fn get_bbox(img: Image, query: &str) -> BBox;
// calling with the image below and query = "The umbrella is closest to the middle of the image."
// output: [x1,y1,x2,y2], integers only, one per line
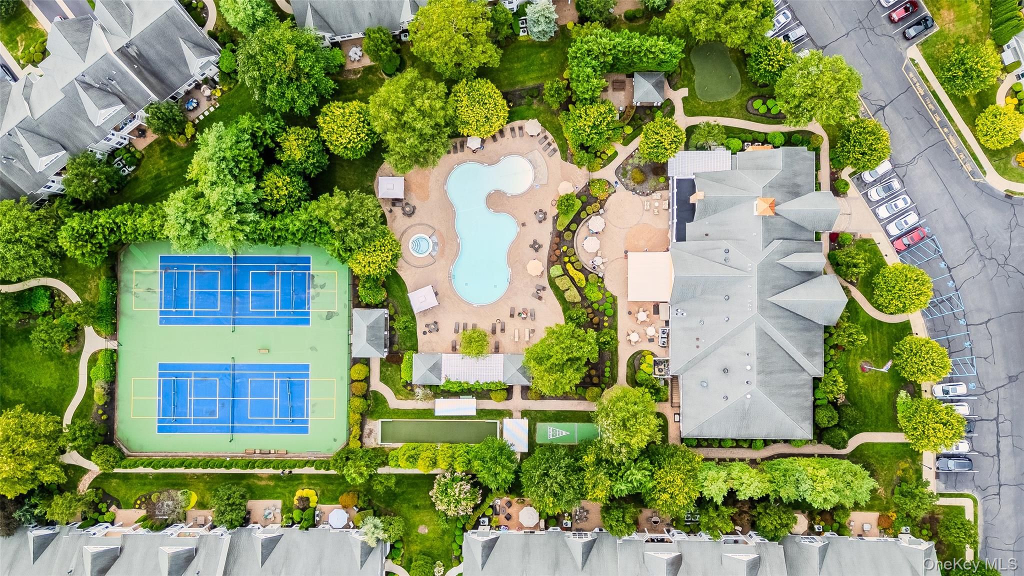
[527,260,543,276]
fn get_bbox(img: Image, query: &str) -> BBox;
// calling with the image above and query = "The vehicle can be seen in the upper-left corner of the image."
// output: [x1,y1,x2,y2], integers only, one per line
[47,3,67,21]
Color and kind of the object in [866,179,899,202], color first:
white car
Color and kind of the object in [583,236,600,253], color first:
white umbrella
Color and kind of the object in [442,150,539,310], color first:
white swimming pool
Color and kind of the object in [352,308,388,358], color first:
white gazebo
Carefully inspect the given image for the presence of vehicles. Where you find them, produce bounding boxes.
[964,419,972,432]
[886,0,918,24]
[859,158,896,185]
[885,212,918,235]
[892,229,925,252]
[782,24,807,43]
[47,3,67,21]
[936,456,970,472]
[931,382,965,397]
[951,439,970,453]
[950,402,969,414]
[866,179,899,202]
[901,16,934,41]
[876,196,908,219]
[764,13,792,36]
